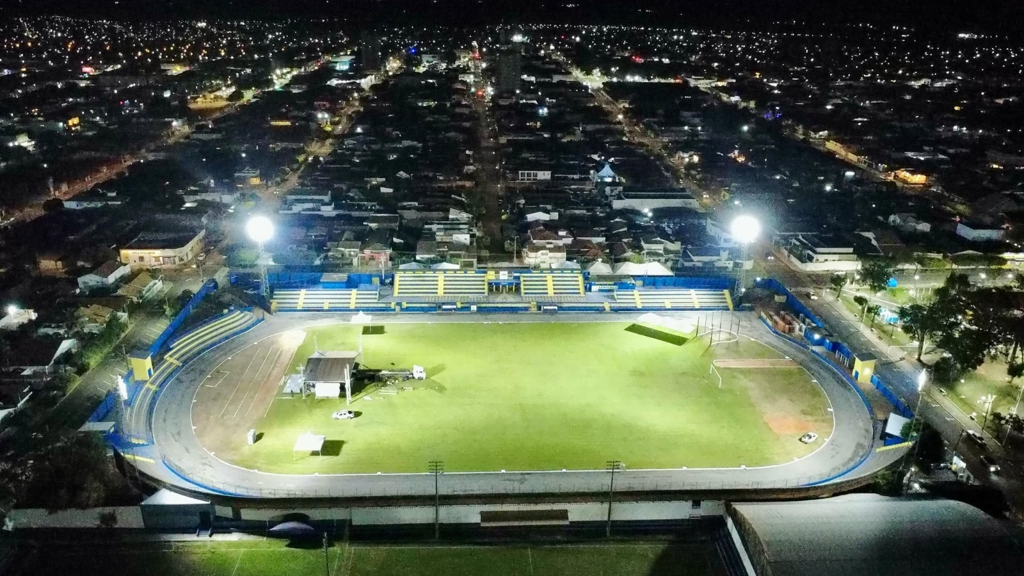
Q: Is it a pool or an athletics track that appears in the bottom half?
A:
athletics track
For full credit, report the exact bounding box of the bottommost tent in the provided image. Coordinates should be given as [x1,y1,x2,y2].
[291,434,326,460]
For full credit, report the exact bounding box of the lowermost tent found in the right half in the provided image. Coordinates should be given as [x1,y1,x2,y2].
[637,311,701,345]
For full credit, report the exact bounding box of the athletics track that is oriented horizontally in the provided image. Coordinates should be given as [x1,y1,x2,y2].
[153,311,873,499]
